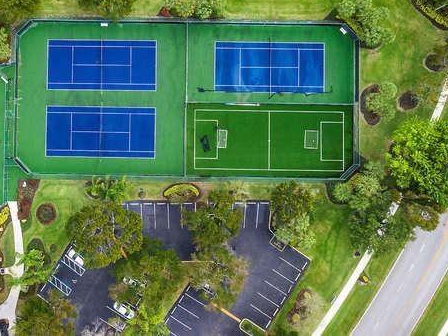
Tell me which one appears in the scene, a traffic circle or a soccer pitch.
soccer pitch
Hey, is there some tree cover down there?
Yes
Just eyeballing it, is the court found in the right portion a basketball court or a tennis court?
tennis court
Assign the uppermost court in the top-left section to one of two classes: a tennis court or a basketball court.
tennis court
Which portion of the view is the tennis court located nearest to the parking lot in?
left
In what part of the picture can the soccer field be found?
center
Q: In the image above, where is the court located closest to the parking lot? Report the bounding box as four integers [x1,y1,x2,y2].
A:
[46,106,155,159]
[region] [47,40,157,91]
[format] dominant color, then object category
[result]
blue tennis court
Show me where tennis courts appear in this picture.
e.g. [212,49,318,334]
[47,40,157,91]
[215,42,325,93]
[46,106,155,159]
